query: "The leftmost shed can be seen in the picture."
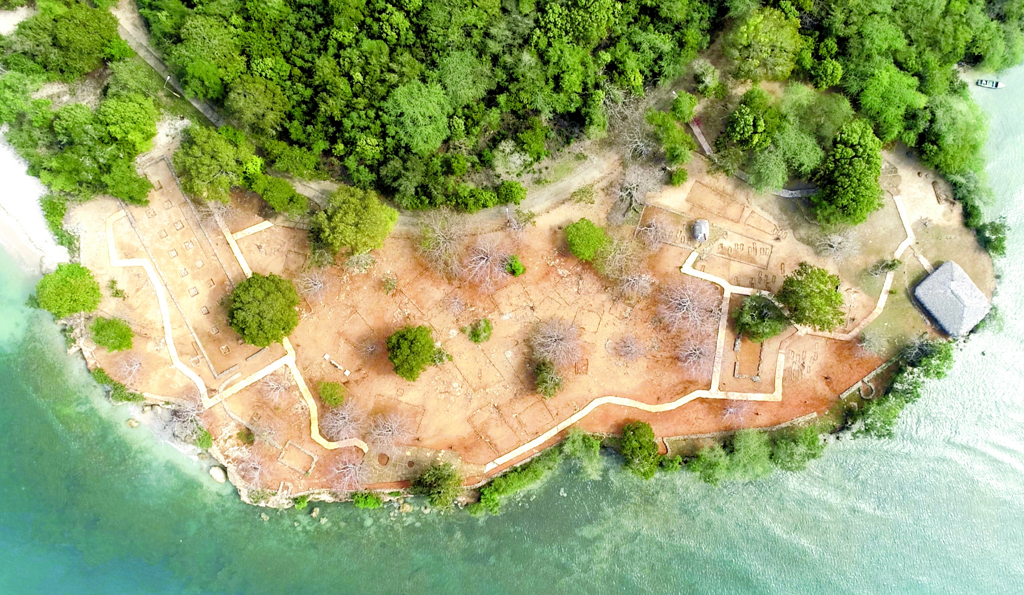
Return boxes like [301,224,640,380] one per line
[691,218,711,244]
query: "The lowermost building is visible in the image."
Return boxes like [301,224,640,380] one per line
[734,328,766,383]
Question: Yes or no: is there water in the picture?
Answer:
Yes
